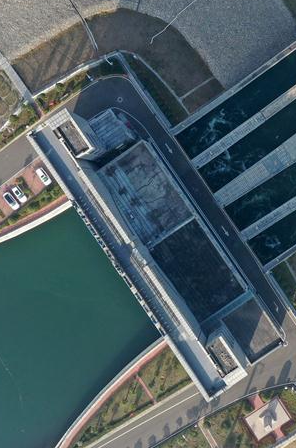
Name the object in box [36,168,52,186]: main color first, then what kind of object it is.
white car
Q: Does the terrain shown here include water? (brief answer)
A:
Yes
